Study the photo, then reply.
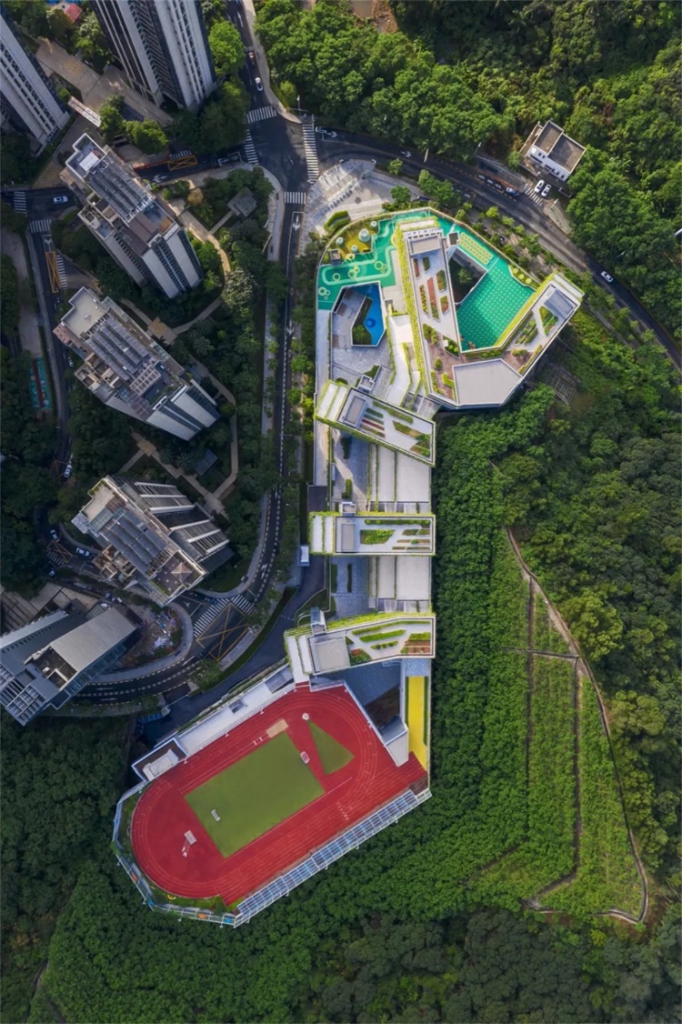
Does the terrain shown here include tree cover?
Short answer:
Yes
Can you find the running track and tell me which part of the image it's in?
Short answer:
bottom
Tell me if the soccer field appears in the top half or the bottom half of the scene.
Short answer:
bottom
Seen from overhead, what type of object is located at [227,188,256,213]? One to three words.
building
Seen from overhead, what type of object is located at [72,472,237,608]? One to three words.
building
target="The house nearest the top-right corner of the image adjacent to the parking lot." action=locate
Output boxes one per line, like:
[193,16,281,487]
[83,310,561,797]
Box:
[522,121,586,182]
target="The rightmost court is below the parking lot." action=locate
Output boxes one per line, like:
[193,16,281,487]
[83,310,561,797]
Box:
[458,260,535,350]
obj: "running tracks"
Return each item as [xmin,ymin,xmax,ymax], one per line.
[130,684,427,906]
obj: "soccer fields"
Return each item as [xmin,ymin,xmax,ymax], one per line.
[185,732,325,857]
